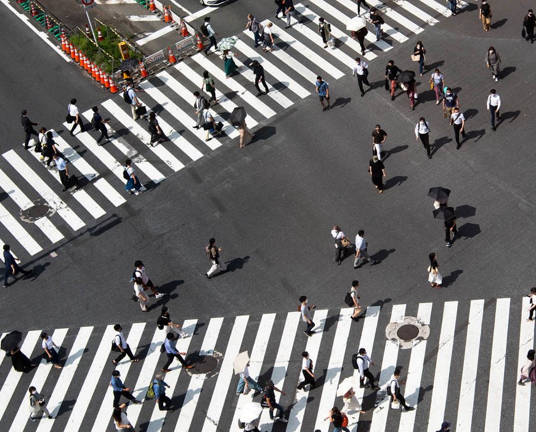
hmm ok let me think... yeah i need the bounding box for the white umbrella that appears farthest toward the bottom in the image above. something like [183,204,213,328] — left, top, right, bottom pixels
[239,400,268,429]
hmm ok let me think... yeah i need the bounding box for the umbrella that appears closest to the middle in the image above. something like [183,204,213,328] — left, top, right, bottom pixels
[233,107,253,127]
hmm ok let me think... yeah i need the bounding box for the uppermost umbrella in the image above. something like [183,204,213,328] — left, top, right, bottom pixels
[347,21,368,38]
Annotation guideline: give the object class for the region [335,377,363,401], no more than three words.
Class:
umbrella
